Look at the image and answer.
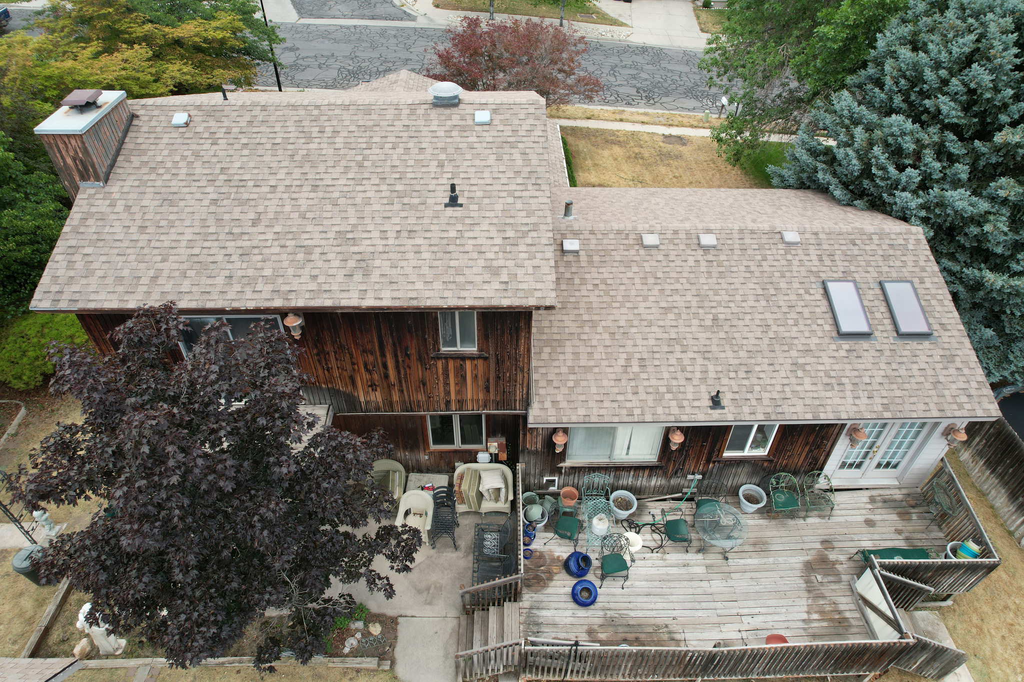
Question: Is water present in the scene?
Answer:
No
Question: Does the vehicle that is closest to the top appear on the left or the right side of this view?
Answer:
left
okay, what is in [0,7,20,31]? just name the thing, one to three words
vehicle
